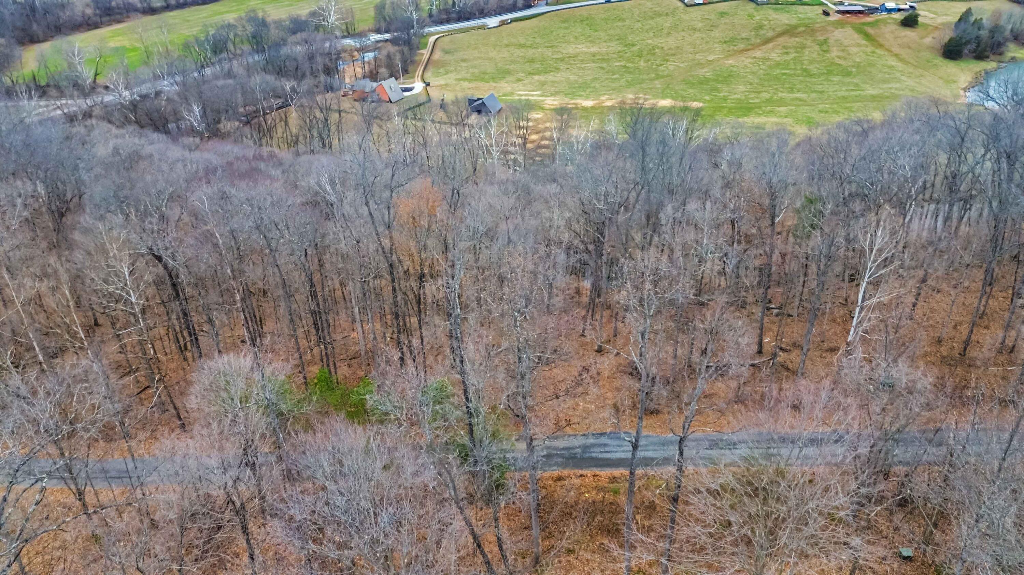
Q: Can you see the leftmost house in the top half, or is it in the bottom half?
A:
top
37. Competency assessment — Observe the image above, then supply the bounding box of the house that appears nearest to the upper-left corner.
[343,75,409,106]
